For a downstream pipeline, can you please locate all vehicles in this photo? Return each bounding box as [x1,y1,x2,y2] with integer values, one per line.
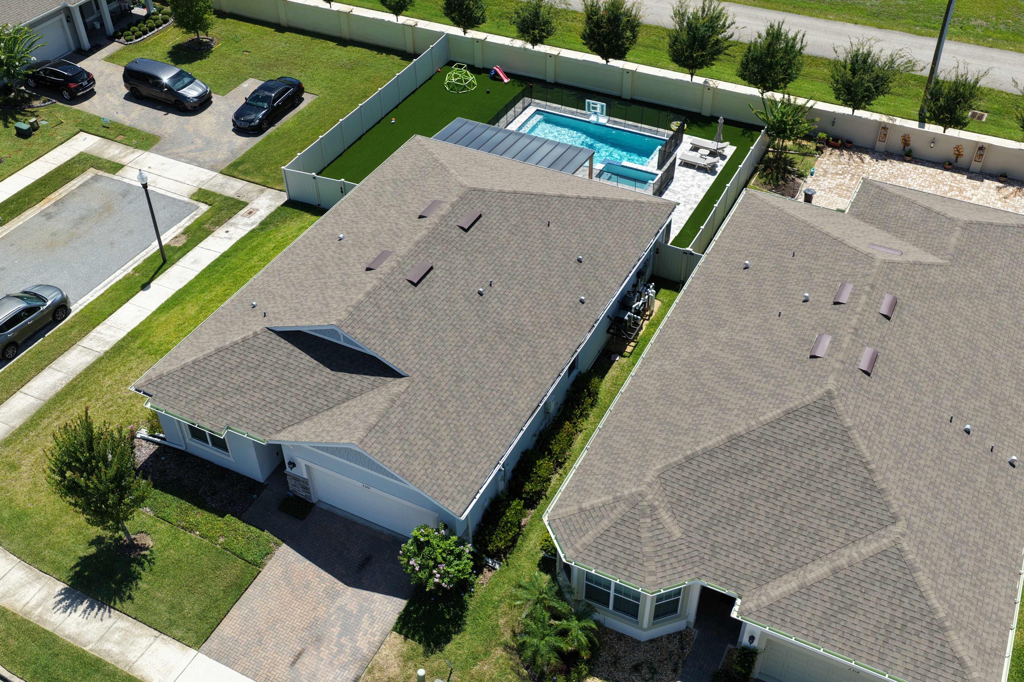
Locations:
[22,58,99,98]
[0,283,70,360]
[227,79,303,134]
[122,57,213,111]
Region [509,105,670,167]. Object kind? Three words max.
swimming pool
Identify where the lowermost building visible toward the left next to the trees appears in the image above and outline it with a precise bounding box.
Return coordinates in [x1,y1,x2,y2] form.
[130,135,679,578]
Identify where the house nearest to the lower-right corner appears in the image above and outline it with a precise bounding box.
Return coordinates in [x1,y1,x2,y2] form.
[543,178,1024,682]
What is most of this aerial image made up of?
buildings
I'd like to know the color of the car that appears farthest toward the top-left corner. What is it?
black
